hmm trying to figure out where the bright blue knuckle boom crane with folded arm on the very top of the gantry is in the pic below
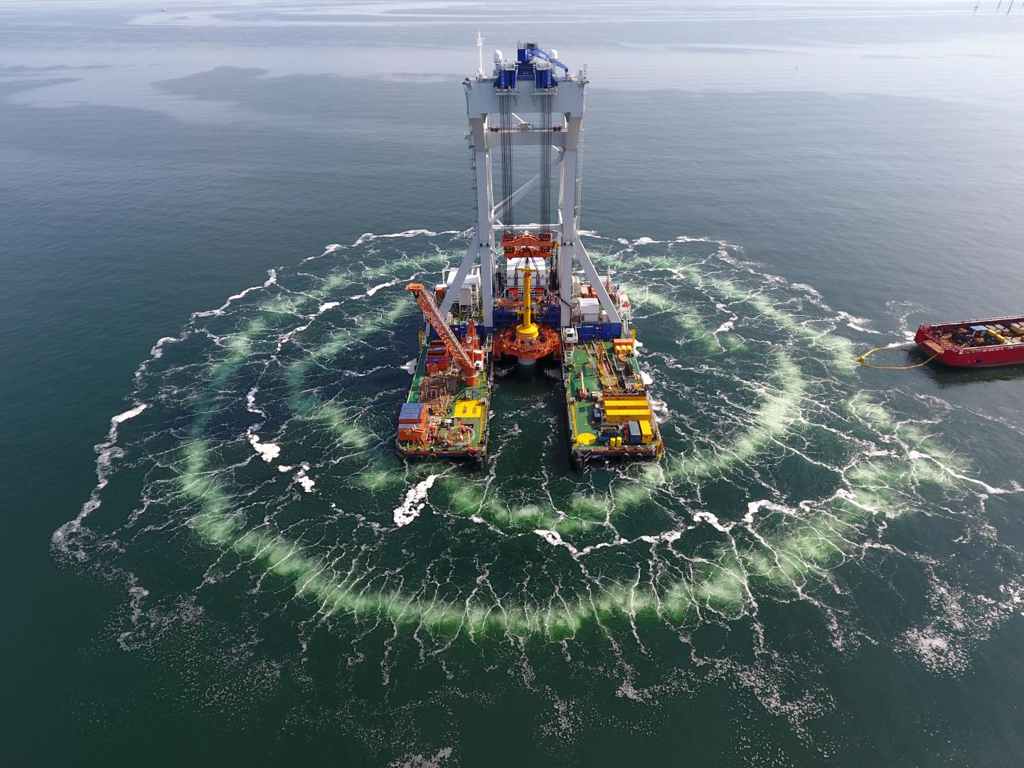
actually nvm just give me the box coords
[518,39,570,77]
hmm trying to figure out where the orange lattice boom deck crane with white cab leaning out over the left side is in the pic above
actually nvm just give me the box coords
[398,285,486,386]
